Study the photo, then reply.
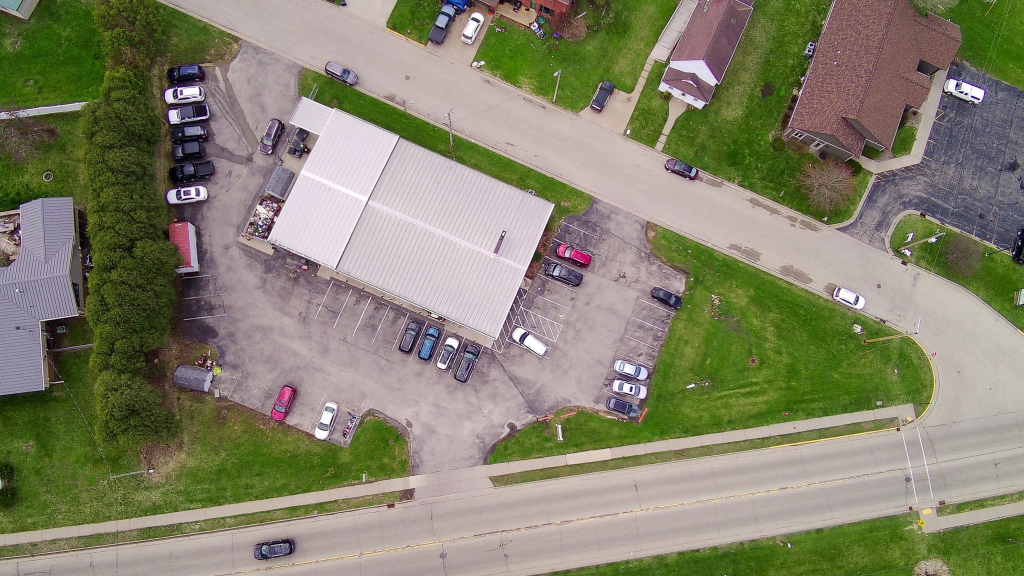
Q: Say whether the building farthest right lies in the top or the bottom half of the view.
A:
top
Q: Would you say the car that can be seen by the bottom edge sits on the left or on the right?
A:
left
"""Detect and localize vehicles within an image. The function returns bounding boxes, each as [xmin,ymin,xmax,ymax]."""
[589,79,612,115]
[253,537,298,561]
[171,141,207,160]
[555,243,593,269]
[418,325,441,362]
[663,158,700,183]
[315,400,339,441]
[612,361,649,383]
[1008,227,1024,266]
[272,383,296,421]
[543,262,585,289]
[454,343,480,385]
[260,118,284,155]
[511,328,550,359]
[461,12,484,46]
[163,86,207,104]
[941,80,990,106]
[648,284,683,311]
[611,380,648,401]
[399,320,422,354]
[167,105,212,124]
[436,336,459,373]
[167,187,209,204]
[168,162,217,182]
[604,397,639,420]
[167,65,207,84]
[171,126,209,144]
[428,4,457,47]
[830,287,866,310]
[323,59,360,86]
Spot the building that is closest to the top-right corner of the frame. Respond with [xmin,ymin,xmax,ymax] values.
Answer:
[783,0,960,159]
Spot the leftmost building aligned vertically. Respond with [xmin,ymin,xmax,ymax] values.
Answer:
[0,197,89,397]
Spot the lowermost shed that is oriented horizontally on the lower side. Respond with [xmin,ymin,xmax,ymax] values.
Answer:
[172,365,217,392]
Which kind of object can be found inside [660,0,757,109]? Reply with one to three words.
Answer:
house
